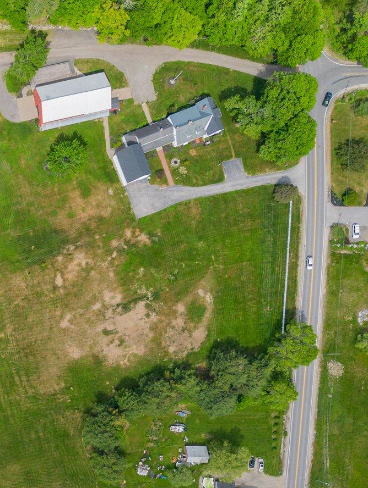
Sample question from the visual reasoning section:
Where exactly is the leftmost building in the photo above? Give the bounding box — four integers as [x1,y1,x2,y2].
[34,73,121,133]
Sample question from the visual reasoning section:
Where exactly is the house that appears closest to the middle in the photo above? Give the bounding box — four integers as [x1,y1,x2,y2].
[112,97,227,186]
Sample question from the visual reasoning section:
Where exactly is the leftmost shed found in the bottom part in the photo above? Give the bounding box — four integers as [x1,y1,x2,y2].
[183,443,209,463]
